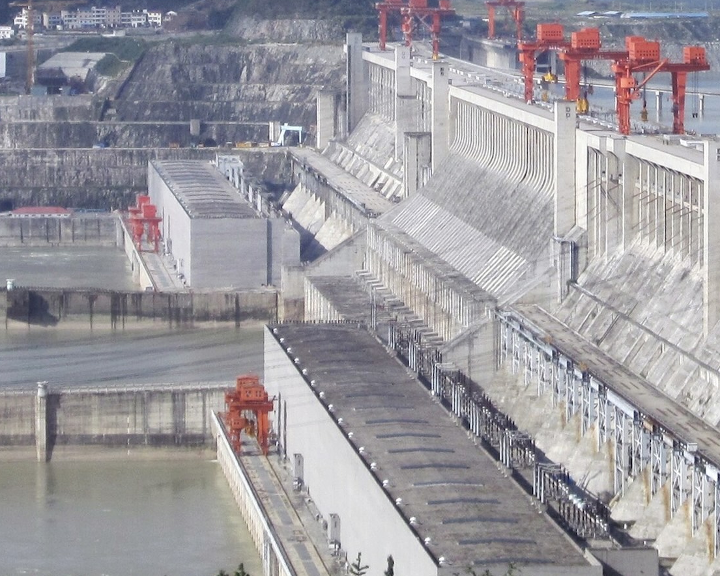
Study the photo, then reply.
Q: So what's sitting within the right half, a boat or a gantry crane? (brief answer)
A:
gantry crane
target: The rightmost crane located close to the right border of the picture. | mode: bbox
[615,33,703,133]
